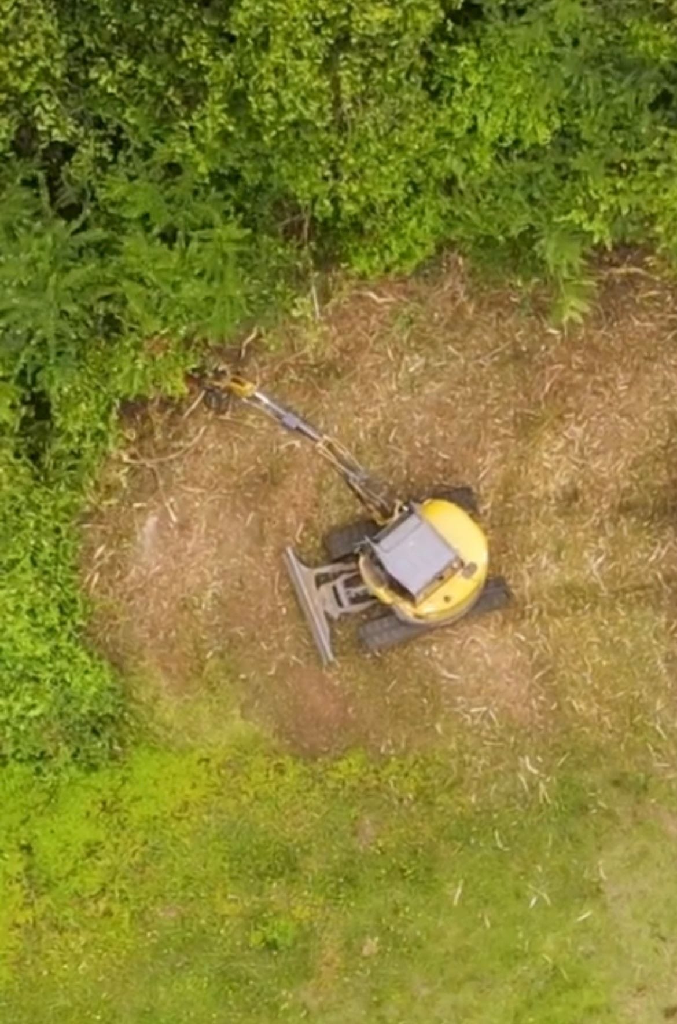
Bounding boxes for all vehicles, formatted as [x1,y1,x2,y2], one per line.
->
[193,363,513,665]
